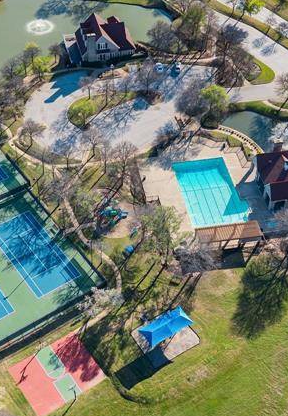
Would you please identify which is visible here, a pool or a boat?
pool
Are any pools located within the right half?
Yes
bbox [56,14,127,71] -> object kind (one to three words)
building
